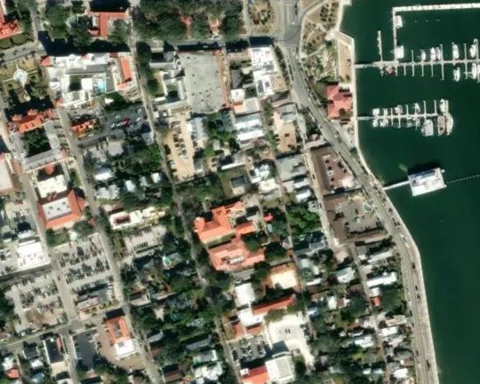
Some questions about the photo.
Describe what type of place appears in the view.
residential area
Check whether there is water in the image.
Yes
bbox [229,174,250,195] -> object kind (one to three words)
house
